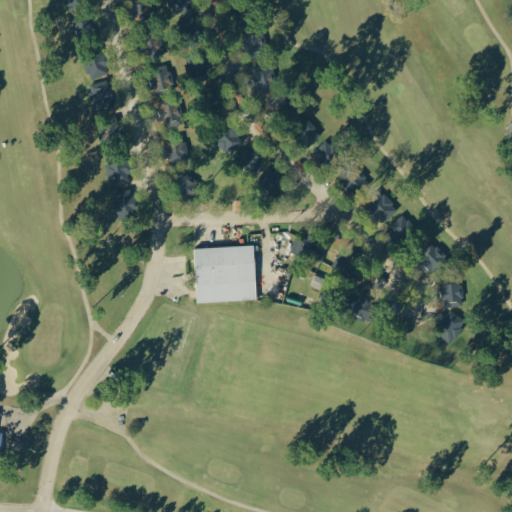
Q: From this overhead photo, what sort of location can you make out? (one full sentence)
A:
It's a golf course.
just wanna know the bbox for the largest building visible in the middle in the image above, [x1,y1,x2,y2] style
[194,244,258,304]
